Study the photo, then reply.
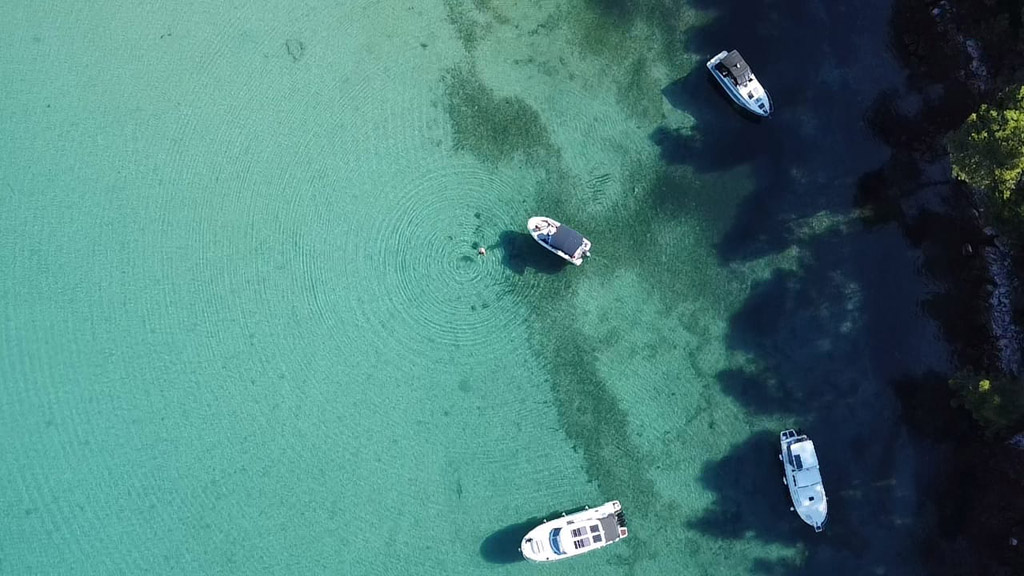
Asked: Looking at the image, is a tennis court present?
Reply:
No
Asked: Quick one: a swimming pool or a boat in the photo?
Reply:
boat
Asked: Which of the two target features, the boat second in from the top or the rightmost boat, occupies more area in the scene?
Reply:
the rightmost boat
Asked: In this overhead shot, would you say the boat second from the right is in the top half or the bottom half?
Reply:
top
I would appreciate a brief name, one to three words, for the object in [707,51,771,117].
boat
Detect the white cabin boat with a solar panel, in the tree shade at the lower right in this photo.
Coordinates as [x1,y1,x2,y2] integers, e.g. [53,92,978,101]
[776,429,830,532]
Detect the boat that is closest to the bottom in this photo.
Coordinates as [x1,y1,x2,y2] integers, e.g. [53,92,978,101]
[518,501,629,561]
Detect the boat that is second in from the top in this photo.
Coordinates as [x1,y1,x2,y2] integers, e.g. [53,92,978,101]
[528,217,590,262]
